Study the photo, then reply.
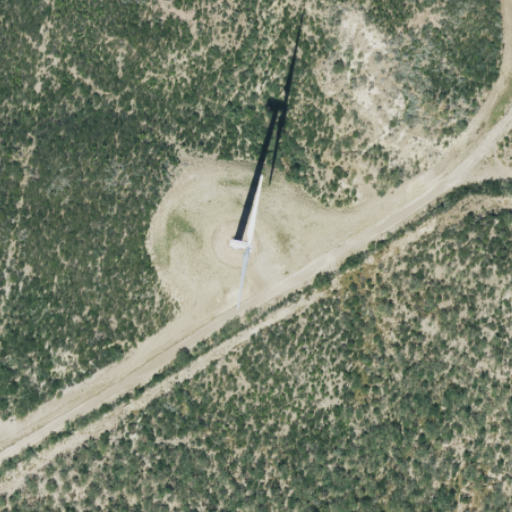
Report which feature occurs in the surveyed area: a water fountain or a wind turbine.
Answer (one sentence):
There is a wind turbine in the scene.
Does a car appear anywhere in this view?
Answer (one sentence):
No, the frame has no car in it.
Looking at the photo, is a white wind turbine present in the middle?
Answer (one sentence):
Yes, I can see a white wind turbine in the middle.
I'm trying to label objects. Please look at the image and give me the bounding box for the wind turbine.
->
[228,177,262,310]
